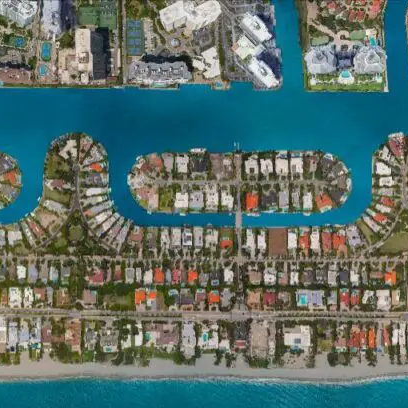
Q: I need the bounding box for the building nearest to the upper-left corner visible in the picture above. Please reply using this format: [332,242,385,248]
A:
[0,0,39,28]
